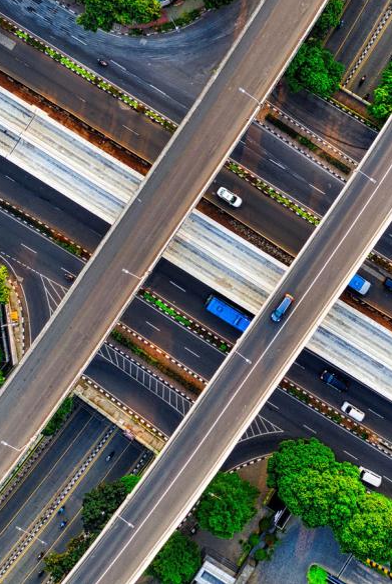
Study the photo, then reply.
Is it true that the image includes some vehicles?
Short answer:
Yes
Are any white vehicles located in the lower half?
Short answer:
Yes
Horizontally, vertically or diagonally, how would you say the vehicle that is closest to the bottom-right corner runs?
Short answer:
diagonally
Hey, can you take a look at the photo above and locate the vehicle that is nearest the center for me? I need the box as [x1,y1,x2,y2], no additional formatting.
[204,295,255,335]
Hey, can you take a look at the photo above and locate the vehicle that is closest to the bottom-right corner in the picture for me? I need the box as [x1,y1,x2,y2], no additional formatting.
[356,466,384,489]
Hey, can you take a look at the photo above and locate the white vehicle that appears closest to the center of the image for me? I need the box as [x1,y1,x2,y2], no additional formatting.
[215,186,244,209]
